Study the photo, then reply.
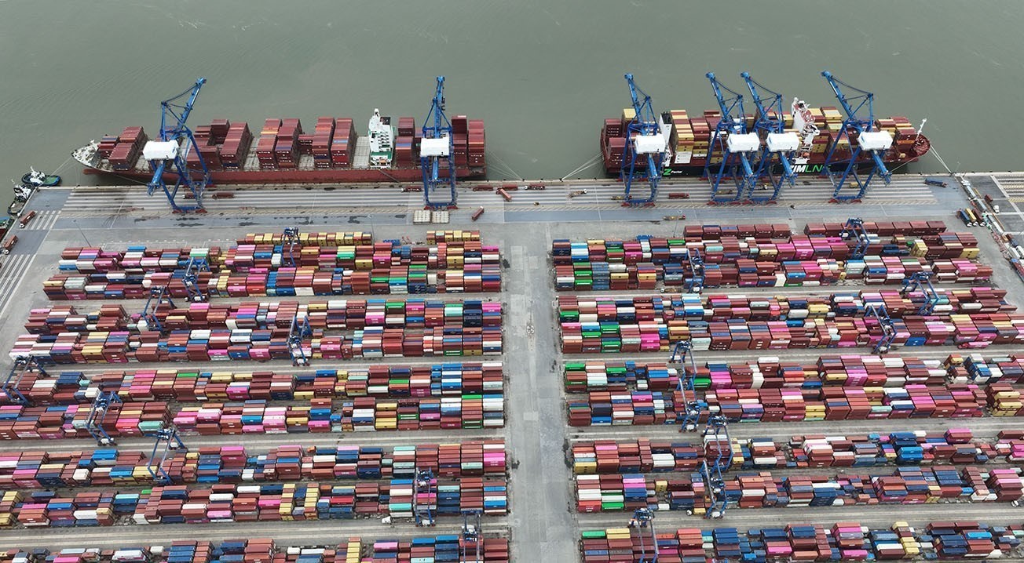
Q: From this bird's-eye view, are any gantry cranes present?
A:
Yes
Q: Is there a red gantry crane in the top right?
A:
No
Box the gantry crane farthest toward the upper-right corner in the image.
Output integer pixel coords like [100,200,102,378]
[818,72,890,202]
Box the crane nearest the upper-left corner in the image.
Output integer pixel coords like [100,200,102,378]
[149,79,215,212]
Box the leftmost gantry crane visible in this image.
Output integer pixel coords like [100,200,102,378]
[0,356,43,409]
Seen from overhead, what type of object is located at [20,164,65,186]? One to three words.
boat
